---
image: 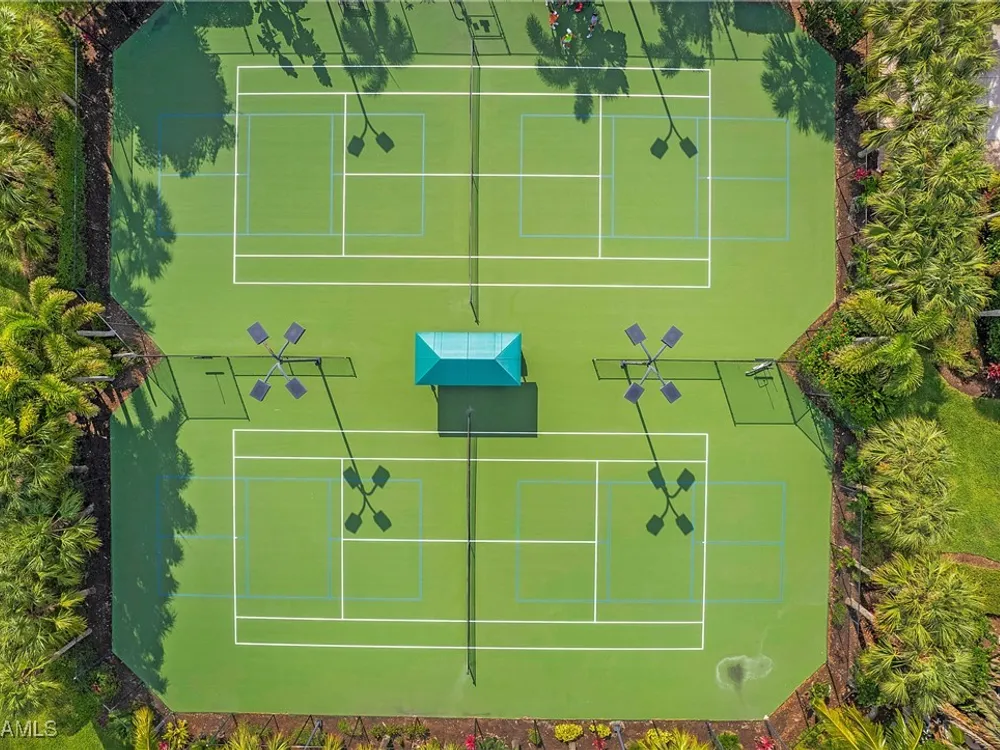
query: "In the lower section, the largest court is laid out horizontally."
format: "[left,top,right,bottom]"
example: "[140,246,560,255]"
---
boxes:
[109,356,832,720]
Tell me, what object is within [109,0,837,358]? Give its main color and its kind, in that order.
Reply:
green tennis court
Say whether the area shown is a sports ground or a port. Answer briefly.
sports ground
